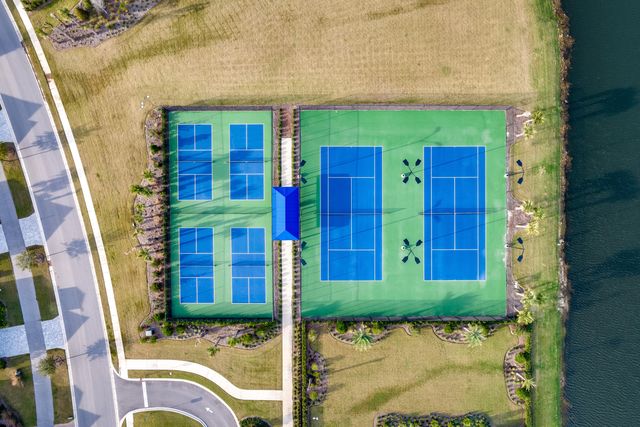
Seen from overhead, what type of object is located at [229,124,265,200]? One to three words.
sports court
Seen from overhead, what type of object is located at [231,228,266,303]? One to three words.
sports court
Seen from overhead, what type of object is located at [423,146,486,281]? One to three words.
tennis court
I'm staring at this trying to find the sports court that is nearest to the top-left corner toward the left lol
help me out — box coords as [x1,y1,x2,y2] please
[178,124,213,200]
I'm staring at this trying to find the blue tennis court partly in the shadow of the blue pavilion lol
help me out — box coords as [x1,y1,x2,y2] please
[321,146,382,281]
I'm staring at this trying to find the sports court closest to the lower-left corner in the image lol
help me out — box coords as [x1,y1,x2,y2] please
[179,228,214,303]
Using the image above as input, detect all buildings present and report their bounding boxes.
[272,187,299,240]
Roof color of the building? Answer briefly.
blue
